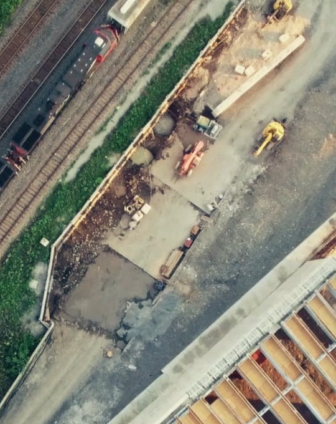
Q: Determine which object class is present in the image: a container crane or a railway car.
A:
railway car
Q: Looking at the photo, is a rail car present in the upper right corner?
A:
No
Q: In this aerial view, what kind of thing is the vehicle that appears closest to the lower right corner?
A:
truck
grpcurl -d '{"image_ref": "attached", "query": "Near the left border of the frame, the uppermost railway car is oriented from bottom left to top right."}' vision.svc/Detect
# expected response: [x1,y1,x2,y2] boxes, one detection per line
[10,18,121,160]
